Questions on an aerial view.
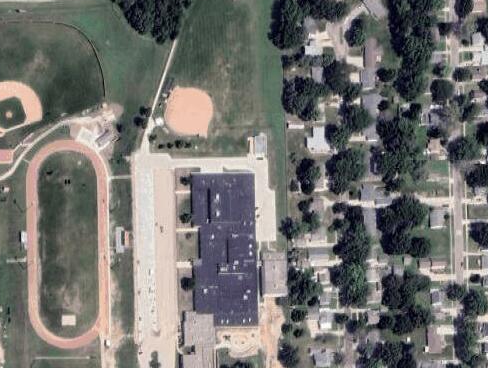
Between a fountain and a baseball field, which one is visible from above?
baseball field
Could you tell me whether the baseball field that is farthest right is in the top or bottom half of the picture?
top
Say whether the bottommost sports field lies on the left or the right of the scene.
left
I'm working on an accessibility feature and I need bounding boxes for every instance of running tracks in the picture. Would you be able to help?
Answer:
[26,140,111,368]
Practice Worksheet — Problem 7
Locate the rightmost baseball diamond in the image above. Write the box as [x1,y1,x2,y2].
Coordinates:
[166,0,261,153]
